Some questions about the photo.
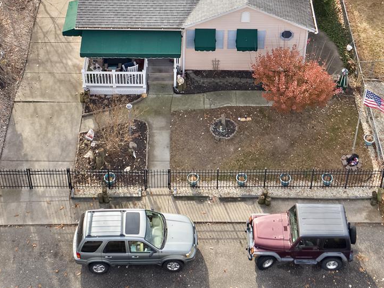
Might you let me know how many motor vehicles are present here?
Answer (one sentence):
The picture shows 2 motor vehicles.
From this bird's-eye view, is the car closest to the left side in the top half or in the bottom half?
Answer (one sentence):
Seen from above, the car closest to the left side lies in the bottom half of the view.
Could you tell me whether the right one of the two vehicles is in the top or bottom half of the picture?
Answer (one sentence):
The right one of the two vehicles sits in the bottom half of the picture.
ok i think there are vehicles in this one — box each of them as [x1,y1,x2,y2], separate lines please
[70,205,200,275]
[242,205,357,272]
